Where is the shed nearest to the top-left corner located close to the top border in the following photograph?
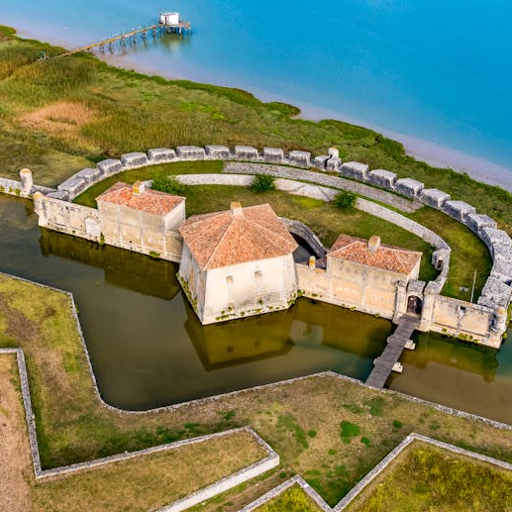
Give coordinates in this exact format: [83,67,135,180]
[156,11,194,44]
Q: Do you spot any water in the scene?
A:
Yes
